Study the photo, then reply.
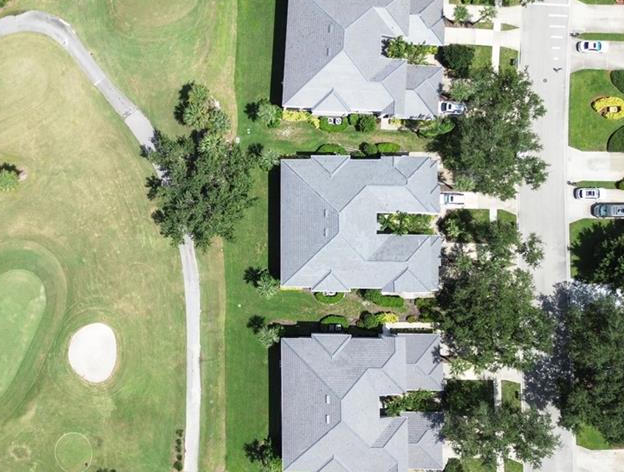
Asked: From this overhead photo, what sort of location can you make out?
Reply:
golf course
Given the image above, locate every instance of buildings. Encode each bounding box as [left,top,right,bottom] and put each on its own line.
[283,0,445,122]
[279,155,439,293]
[280,331,443,472]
